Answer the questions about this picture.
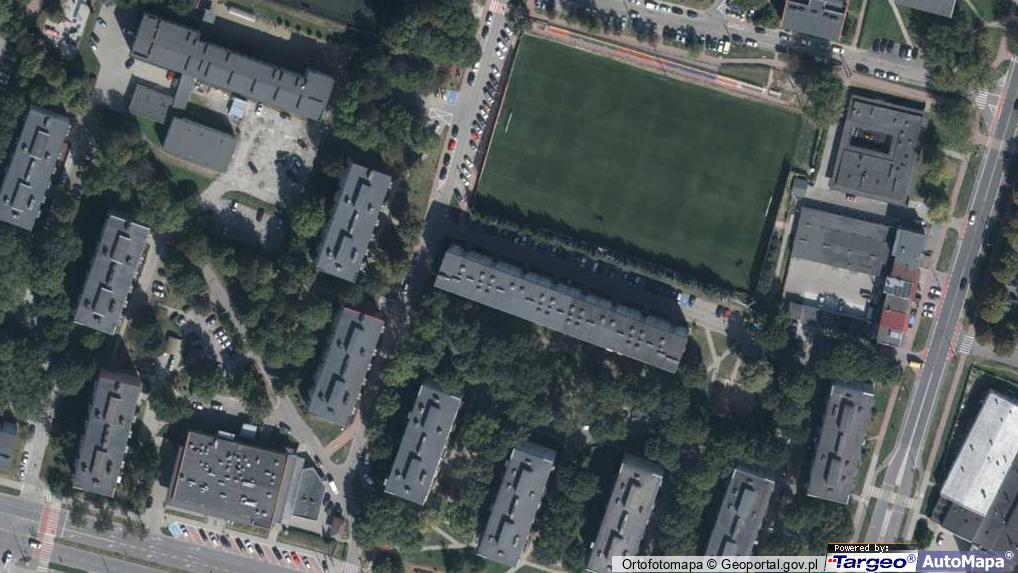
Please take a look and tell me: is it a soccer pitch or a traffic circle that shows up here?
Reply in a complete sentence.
The image shows a soccer pitch.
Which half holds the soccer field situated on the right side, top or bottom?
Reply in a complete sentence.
The soccer field situated on the right side is in the top half of the image.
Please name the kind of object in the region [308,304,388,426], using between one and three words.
building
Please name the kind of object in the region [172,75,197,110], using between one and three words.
shed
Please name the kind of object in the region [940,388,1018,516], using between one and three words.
building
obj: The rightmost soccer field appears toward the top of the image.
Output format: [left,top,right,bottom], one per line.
[472,34,803,290]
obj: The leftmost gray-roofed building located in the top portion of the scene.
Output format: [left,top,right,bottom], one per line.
[0,105,80,232]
